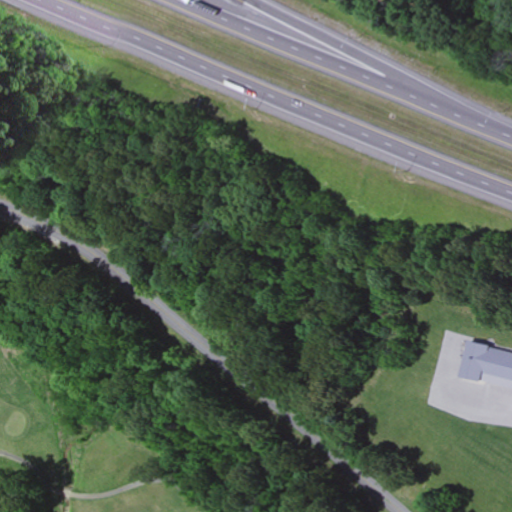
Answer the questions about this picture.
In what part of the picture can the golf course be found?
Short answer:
bottom left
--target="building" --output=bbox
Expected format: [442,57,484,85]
[458,341,512,382]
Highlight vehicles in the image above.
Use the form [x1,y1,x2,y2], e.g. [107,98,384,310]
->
[221,79,254,98]
[292,100,302,106]
[184,0,220,14]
